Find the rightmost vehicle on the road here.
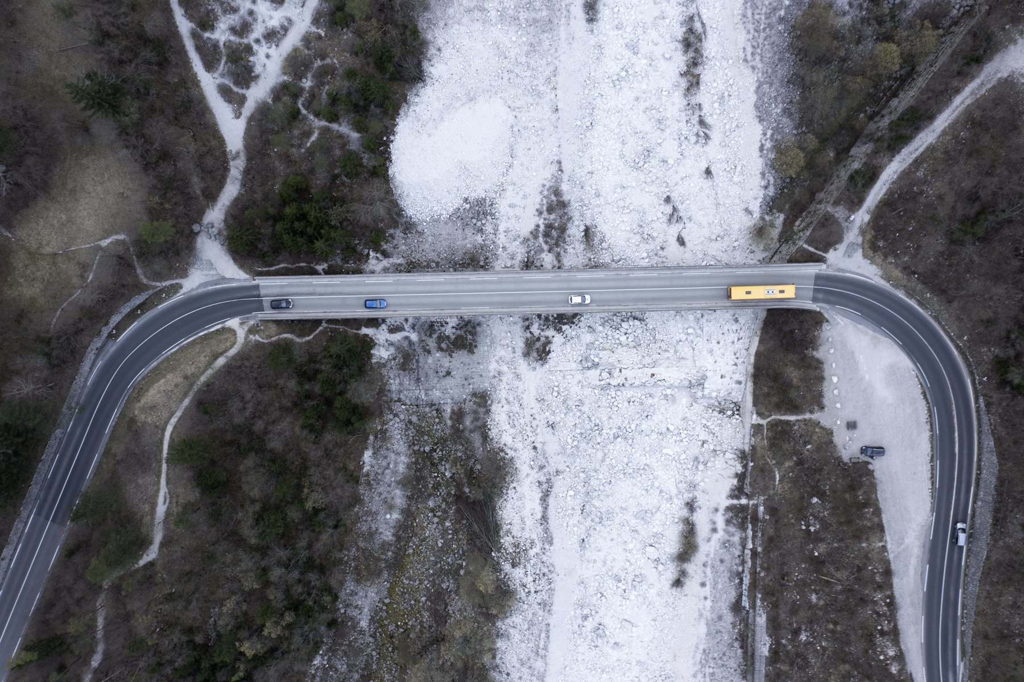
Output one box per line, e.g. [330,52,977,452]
[950,522,966,547]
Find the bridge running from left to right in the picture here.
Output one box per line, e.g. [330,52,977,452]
[255,263,822,319]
